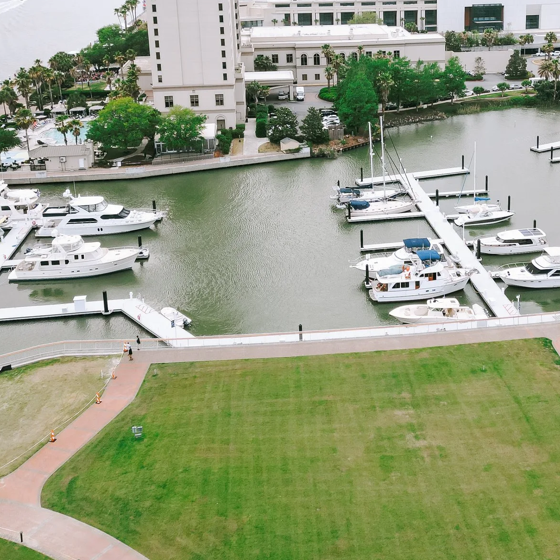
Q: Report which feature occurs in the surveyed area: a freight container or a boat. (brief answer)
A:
boat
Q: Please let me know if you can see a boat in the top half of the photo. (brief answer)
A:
Yes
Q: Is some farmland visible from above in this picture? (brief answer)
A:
No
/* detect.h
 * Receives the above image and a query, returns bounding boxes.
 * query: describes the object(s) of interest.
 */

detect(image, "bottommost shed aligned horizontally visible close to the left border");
[26,141,104,172]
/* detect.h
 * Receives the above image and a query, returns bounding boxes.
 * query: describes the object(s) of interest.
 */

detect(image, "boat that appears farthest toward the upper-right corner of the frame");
[457,146,504,212]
